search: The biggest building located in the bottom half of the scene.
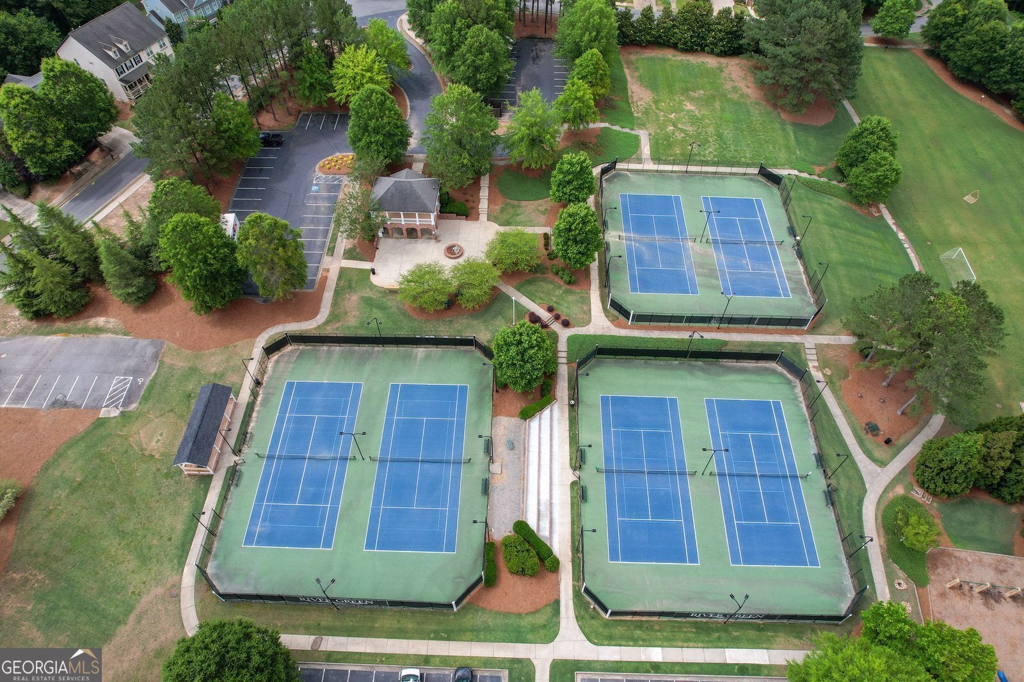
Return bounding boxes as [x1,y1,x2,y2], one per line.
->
[171,380,238,474]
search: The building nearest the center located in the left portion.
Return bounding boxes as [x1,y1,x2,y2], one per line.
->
[369,163,441,241]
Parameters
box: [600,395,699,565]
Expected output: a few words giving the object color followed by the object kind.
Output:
blue tennis court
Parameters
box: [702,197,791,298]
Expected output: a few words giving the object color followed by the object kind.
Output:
blue tennis court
